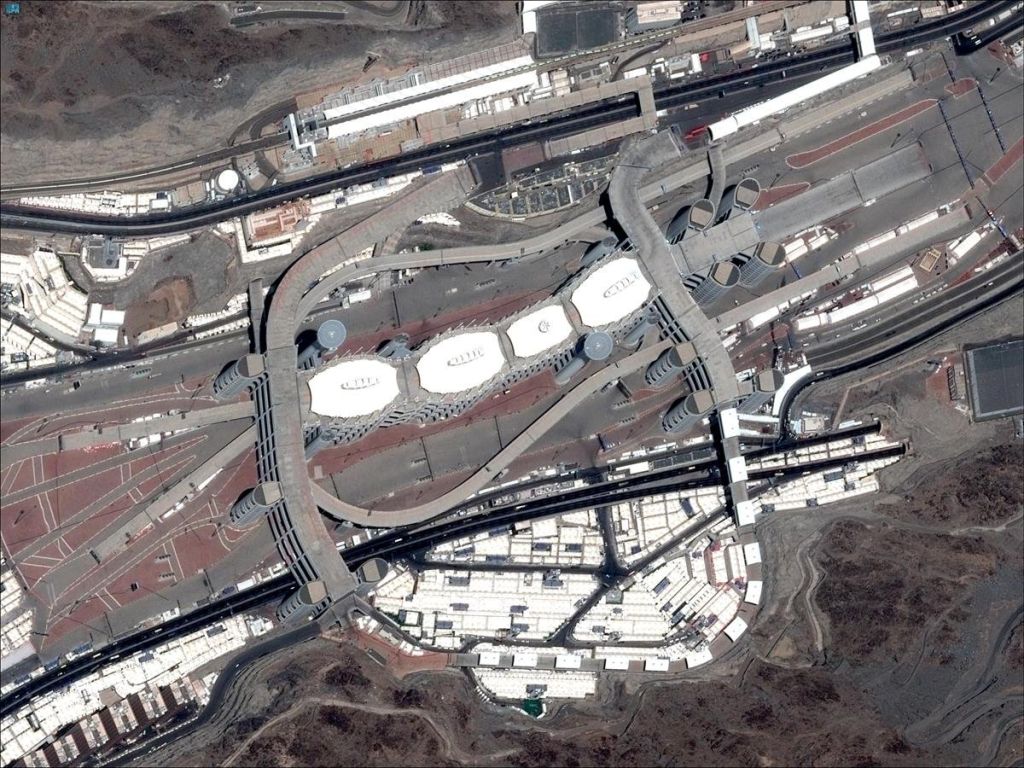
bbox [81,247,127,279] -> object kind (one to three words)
building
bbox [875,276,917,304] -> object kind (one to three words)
shed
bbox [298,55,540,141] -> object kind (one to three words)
train station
